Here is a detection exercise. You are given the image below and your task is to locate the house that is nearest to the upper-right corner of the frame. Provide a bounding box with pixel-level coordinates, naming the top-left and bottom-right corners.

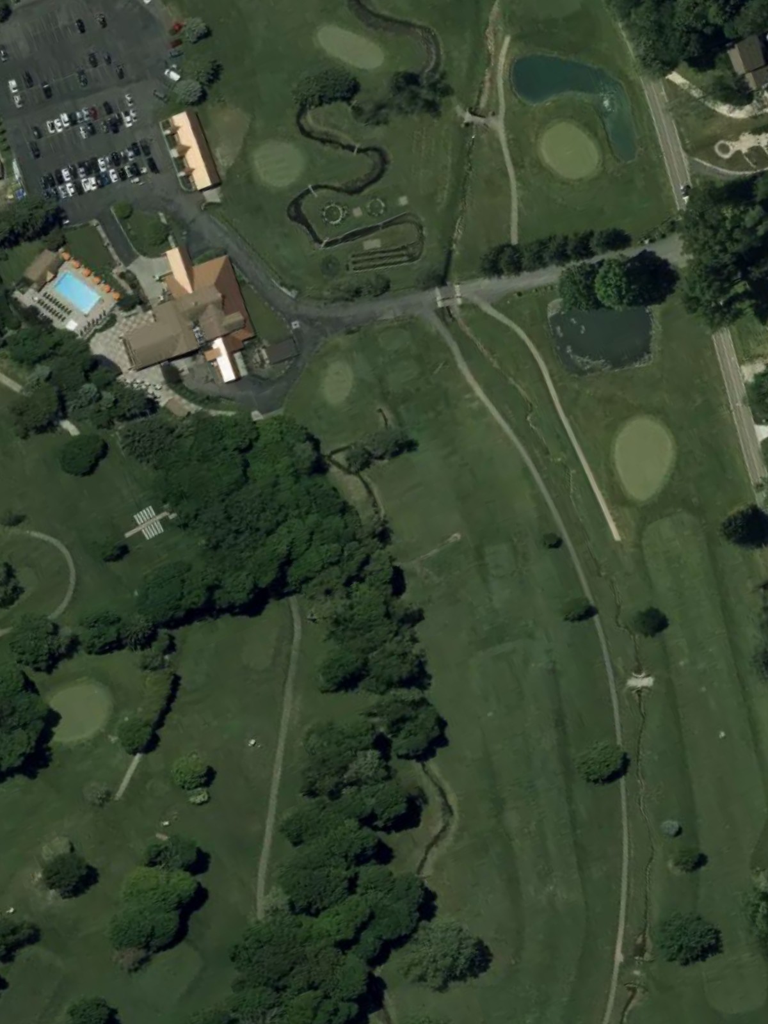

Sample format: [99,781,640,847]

[729,40,768,96]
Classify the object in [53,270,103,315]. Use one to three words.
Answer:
swimming pool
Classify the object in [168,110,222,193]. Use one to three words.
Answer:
building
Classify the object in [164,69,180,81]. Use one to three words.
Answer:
vehicle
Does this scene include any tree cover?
Yes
